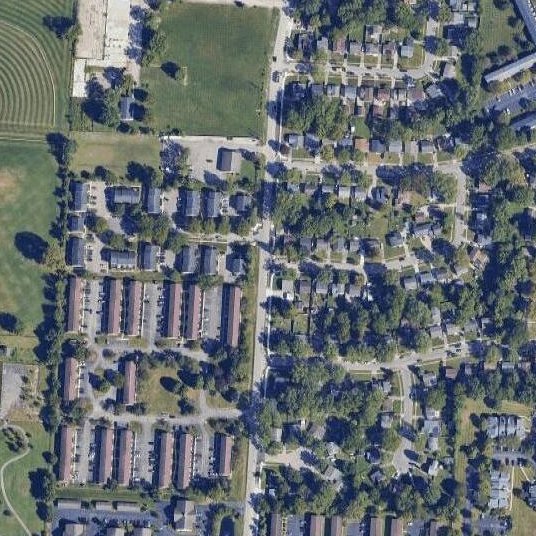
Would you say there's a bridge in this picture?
No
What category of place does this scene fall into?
residential area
